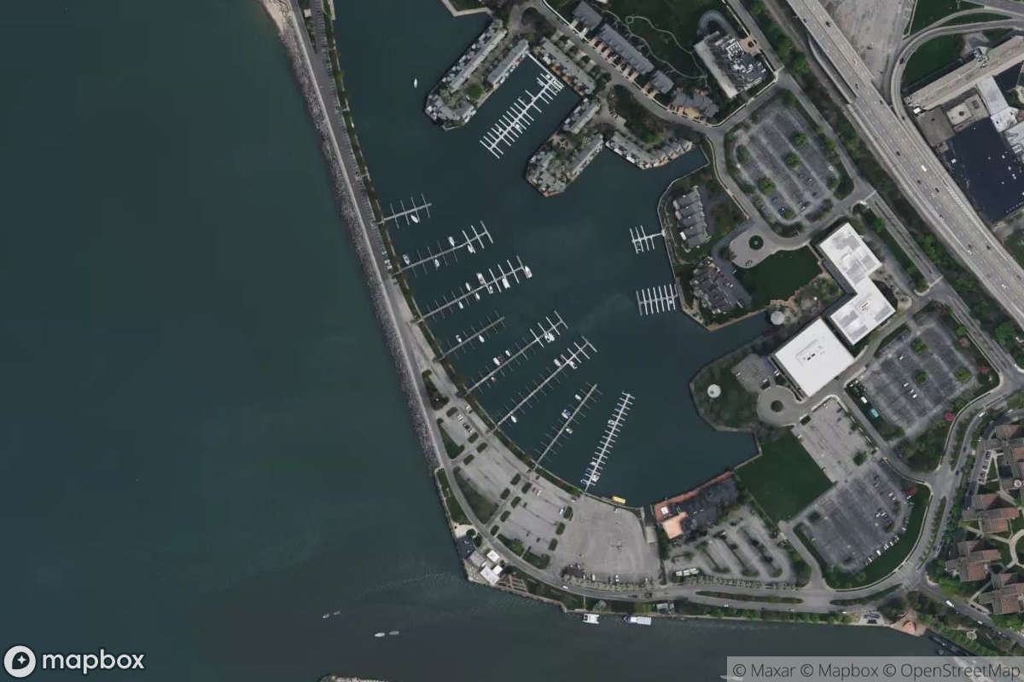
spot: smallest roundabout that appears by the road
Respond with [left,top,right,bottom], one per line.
[759,386,796,423]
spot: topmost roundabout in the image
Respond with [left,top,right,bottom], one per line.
[730,222,805,267]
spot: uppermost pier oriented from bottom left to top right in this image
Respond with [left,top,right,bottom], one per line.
[480,59,564,158]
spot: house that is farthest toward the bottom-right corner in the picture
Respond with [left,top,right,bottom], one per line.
[977,574,1024,613]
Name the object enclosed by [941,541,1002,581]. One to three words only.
house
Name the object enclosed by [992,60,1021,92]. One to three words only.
shed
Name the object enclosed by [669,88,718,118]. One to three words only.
house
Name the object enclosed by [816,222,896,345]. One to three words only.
building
